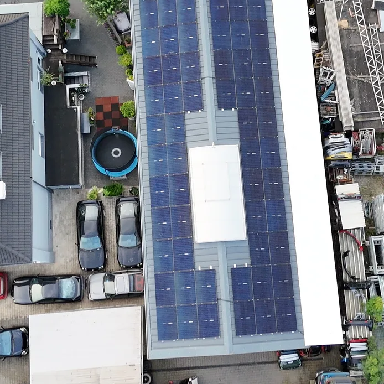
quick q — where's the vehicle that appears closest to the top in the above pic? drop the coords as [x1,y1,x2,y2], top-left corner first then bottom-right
[332,184,368,229]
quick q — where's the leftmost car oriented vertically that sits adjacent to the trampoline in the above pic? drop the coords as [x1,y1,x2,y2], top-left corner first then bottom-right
[73,199,108,272]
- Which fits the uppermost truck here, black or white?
white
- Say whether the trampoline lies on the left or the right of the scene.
left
